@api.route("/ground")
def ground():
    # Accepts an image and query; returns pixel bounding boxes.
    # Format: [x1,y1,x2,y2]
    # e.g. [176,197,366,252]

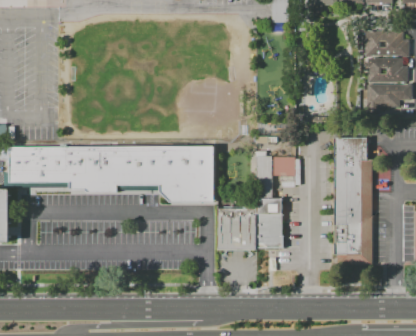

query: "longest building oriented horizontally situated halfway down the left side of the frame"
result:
[4,147,218,206]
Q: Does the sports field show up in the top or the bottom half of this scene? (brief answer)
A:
top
